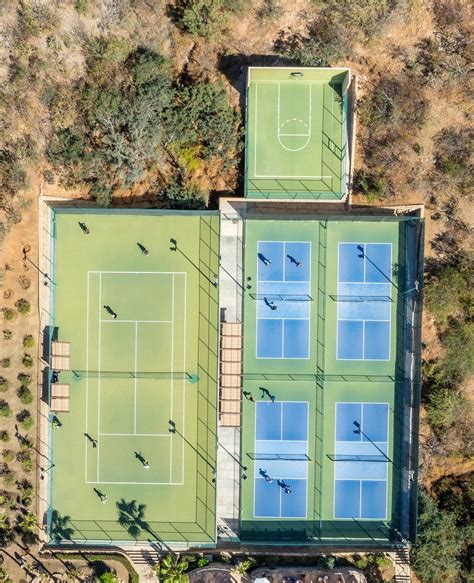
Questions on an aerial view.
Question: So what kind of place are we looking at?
sports ground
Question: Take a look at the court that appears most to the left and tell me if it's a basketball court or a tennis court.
tennis court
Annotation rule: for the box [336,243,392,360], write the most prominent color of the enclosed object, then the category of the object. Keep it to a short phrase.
blue sports court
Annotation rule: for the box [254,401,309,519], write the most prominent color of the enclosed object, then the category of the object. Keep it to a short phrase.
blue sports court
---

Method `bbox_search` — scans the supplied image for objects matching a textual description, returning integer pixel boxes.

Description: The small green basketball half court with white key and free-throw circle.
[244,80,343,199]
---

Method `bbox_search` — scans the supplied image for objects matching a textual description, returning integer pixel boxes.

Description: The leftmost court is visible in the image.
[52,212,220,543]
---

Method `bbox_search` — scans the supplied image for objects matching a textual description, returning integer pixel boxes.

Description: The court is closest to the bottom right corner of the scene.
[334,402,390,520]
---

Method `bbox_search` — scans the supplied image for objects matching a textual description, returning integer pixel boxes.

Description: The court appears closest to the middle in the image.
[255,241,311,359]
